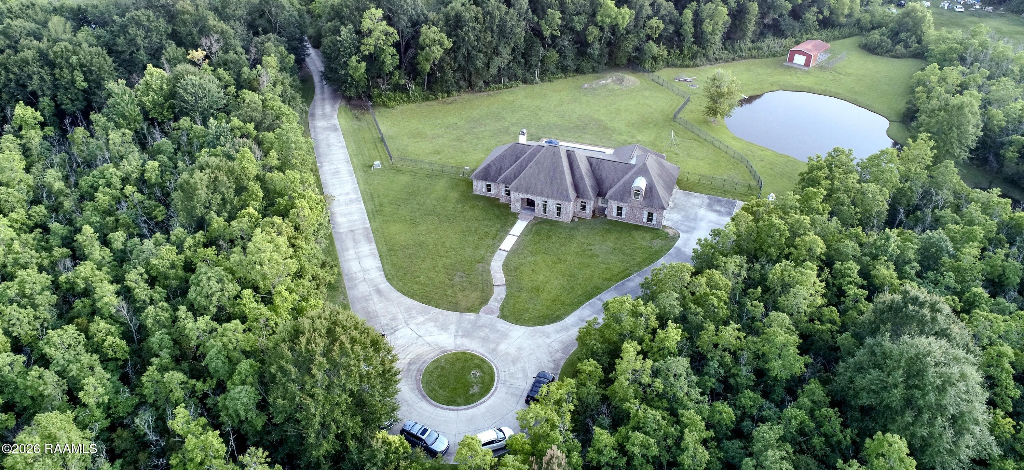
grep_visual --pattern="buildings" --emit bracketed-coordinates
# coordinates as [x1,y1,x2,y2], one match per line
[779,36,830,69]
[470,126,681,228]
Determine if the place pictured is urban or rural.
rural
